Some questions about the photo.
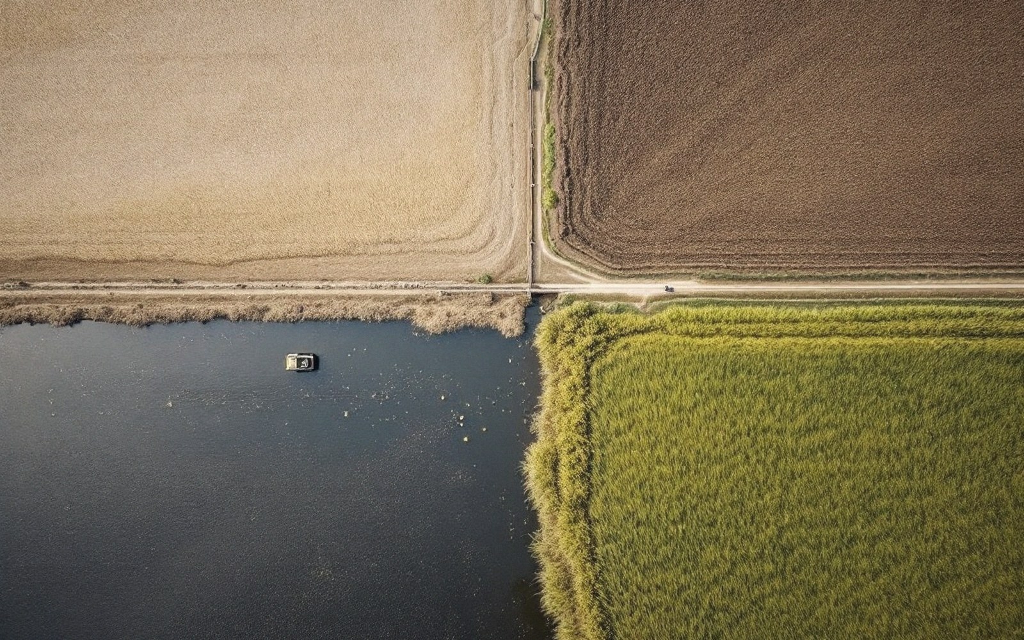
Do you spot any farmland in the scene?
Yes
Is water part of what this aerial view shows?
Yes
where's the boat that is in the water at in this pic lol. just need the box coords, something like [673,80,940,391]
[284,353,317,372]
